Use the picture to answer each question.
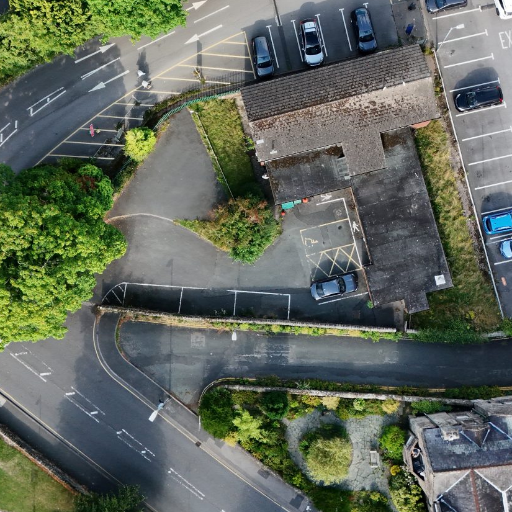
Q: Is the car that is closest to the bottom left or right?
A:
right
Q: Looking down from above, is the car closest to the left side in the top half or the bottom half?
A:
top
